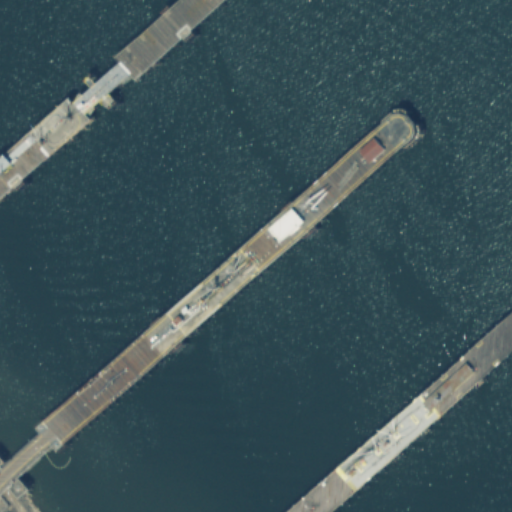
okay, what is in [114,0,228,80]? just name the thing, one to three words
pier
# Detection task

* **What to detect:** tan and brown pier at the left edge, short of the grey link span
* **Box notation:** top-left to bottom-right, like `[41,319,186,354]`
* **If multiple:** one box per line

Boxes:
[0,98,90,204]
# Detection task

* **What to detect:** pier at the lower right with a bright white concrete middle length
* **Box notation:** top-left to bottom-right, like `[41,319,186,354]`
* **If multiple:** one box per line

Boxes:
[286,312,512,512]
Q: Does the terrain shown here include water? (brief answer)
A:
Yes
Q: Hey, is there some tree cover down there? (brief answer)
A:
No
